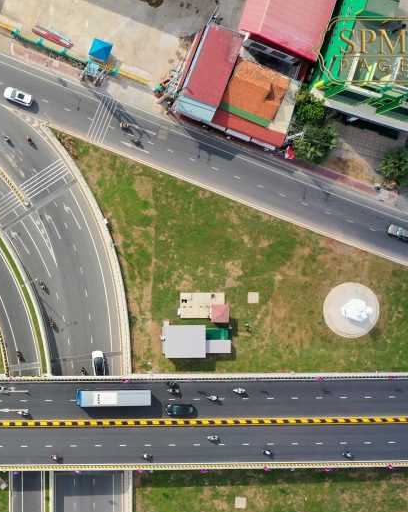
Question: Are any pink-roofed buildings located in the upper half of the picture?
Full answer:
Yes, I can see a pink-roofed building in the upper half of the picture.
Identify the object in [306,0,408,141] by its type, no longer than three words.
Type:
building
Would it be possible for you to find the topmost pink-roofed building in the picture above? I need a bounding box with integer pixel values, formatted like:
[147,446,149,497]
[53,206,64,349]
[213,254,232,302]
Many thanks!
[238,0,339,65]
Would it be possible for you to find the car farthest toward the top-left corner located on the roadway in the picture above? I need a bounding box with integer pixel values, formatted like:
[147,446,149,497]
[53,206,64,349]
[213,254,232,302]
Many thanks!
[4,88,34,107]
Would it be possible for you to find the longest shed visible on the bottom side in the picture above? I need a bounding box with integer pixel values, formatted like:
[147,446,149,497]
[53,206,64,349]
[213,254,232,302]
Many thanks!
[160,321,231,358]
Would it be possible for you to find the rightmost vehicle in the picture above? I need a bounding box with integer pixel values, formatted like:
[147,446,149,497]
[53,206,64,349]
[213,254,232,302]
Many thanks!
[383,224,408,243]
